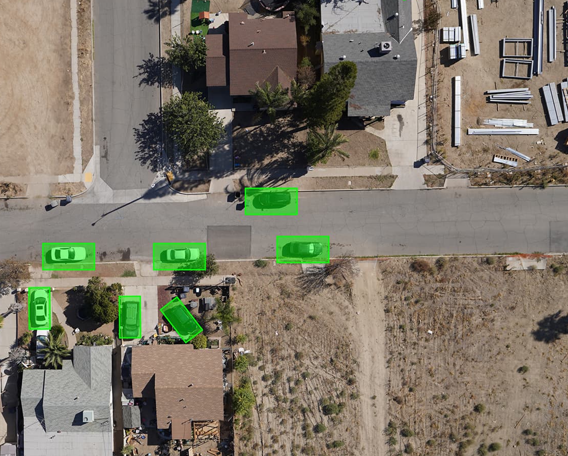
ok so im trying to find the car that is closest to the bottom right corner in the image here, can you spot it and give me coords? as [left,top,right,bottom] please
[286,241,321,257]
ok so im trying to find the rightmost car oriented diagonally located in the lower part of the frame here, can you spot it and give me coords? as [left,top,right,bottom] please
[167,302,197,338]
